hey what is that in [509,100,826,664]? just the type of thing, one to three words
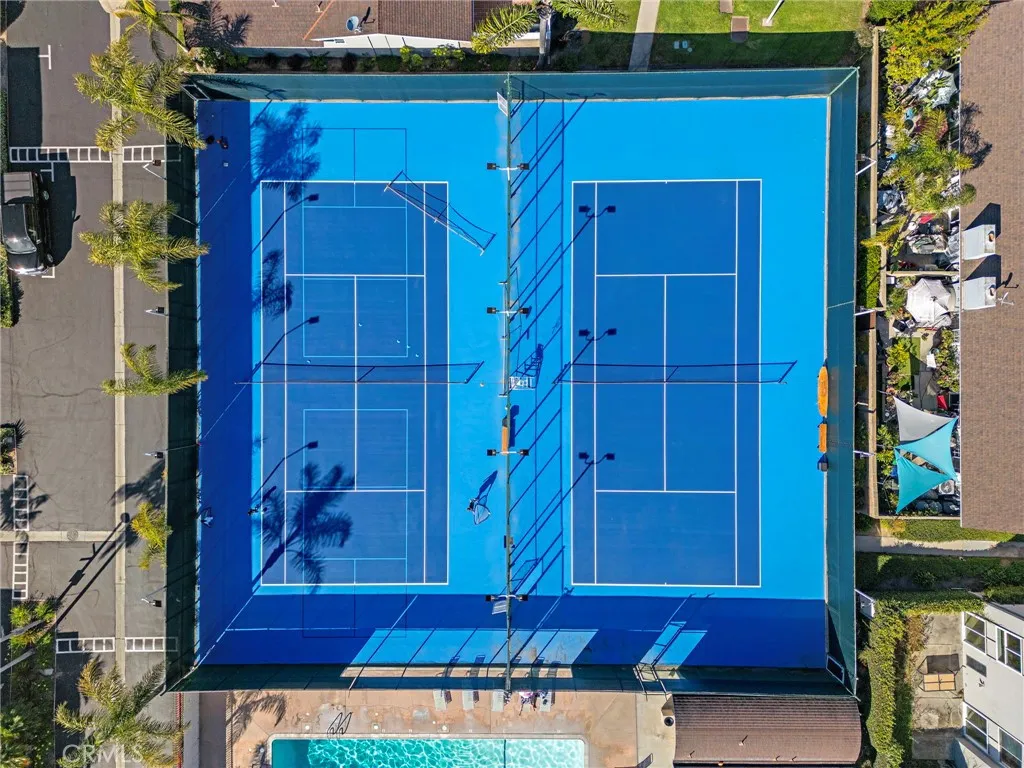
tennis court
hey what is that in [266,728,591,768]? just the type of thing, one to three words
swimming pool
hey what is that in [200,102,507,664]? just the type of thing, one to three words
tennis court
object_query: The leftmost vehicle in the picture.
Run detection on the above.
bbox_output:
[0,172,53,278]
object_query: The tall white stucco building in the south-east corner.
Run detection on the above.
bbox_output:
[950,598,1024,768]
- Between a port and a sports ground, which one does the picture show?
sports ground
